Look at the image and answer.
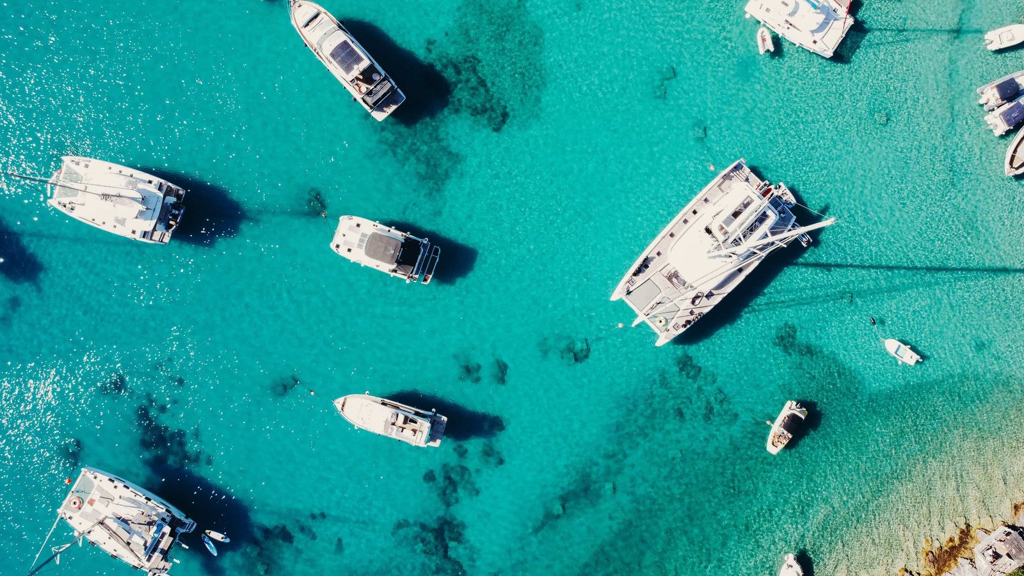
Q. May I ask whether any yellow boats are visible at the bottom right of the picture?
No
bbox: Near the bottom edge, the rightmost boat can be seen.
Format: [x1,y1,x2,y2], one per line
[779,553,804,576]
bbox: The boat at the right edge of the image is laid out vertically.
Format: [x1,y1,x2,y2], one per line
[1002,124,1024,176]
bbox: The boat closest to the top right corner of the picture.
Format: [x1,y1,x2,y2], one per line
[982,24,1024,52]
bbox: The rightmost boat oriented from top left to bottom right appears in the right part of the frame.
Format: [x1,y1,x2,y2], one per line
[875,325,923,366]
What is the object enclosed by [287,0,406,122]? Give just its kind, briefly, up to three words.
boat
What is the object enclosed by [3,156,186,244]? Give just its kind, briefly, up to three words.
boat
